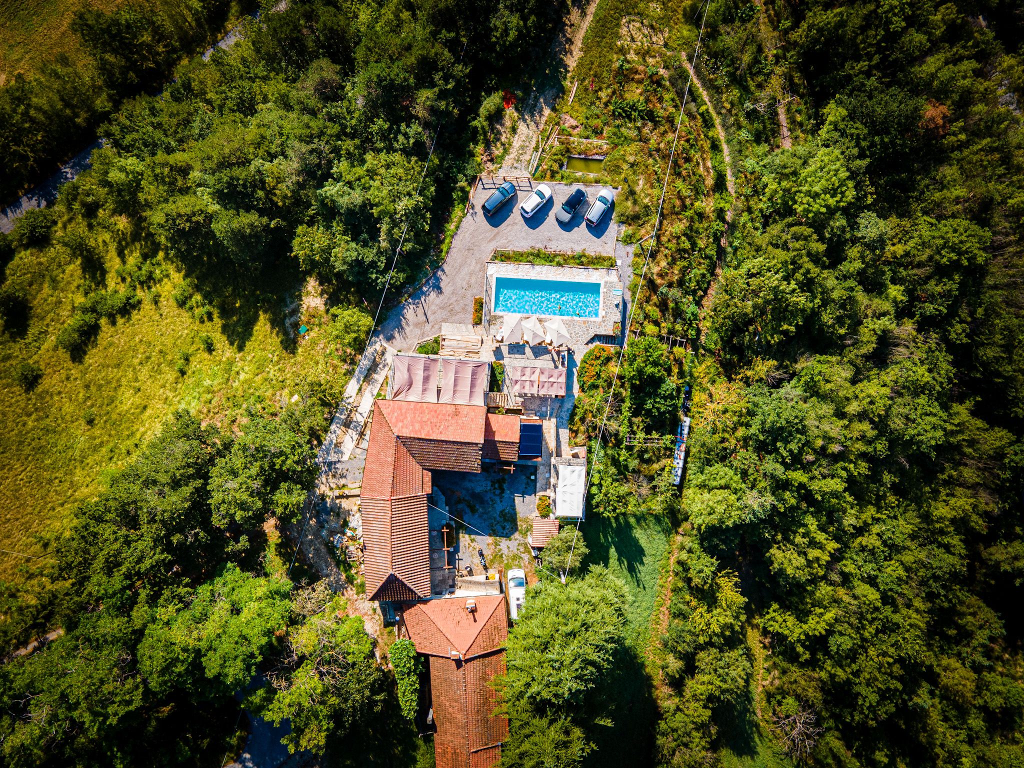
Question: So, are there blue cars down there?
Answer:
Yes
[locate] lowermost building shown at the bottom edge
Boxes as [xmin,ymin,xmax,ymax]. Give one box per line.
[428,650,507,768]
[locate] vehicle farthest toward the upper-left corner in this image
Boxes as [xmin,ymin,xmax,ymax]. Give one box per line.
[481,181,516,218]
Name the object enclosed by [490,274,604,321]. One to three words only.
swimming pool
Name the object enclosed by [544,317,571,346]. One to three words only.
umbrella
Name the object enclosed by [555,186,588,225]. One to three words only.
car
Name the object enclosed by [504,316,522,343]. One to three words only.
umbrella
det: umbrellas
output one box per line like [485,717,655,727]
[504,316,522,343]
[544,317,571,346]
[521,315,546,346]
